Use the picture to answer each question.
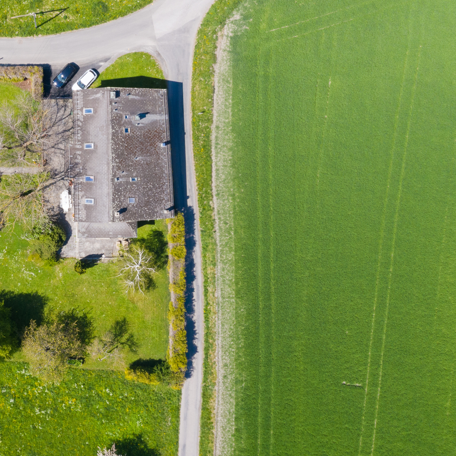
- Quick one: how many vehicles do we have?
2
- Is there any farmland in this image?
Yes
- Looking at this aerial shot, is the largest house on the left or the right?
left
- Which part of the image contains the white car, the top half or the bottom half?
top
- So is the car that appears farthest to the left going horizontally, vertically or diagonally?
diagonally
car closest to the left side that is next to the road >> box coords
[53,62,77,89]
